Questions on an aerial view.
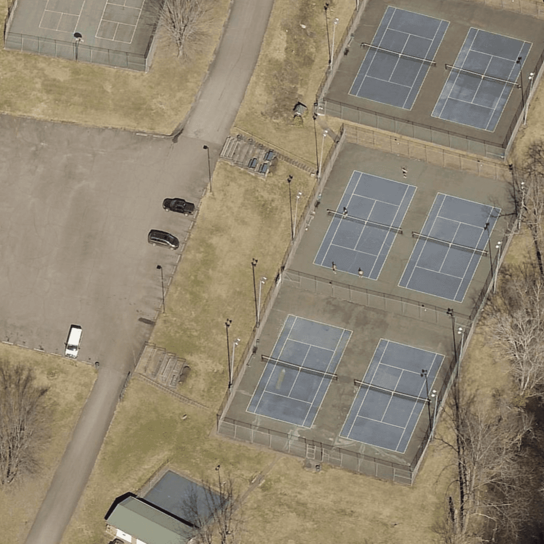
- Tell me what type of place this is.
sports ground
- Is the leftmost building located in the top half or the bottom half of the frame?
bottom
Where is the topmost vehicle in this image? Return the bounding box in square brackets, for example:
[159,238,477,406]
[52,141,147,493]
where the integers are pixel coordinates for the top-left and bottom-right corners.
[160,200,196,217]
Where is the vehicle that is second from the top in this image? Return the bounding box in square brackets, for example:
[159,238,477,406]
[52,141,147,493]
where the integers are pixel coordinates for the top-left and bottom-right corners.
[148,232,180,251]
